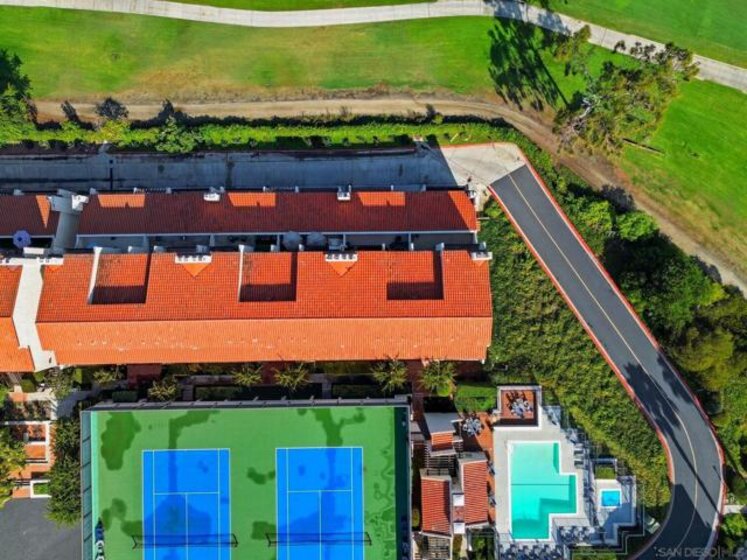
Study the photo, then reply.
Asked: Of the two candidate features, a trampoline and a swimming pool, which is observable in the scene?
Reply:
swimming pool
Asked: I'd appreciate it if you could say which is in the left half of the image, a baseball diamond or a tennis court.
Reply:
tennis court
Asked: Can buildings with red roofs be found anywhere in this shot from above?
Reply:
Yes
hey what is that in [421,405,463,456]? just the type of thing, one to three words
building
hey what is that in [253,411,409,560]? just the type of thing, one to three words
tennis court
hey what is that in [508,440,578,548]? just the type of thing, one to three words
swimming pool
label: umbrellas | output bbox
[305,234,327,251]
[15,231,44,249]
[281,234,303,252]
